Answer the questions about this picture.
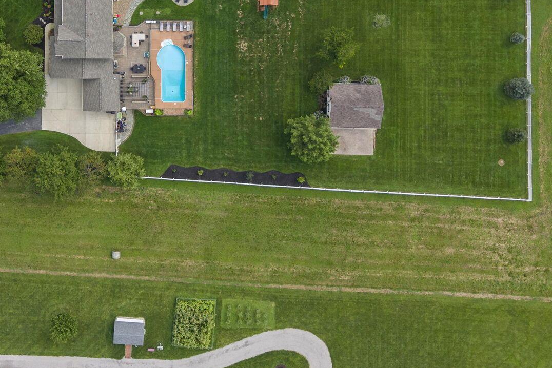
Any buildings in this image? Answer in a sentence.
Yes, I can see a building in this picture.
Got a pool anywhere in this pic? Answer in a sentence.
Yes, a pool is visible in the scene.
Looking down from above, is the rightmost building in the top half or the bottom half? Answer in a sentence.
The rightmost building is in the top half of the image.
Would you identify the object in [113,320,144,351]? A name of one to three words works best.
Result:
shed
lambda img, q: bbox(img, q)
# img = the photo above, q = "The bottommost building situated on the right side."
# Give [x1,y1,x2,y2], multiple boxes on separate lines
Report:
[327,83,384,129]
